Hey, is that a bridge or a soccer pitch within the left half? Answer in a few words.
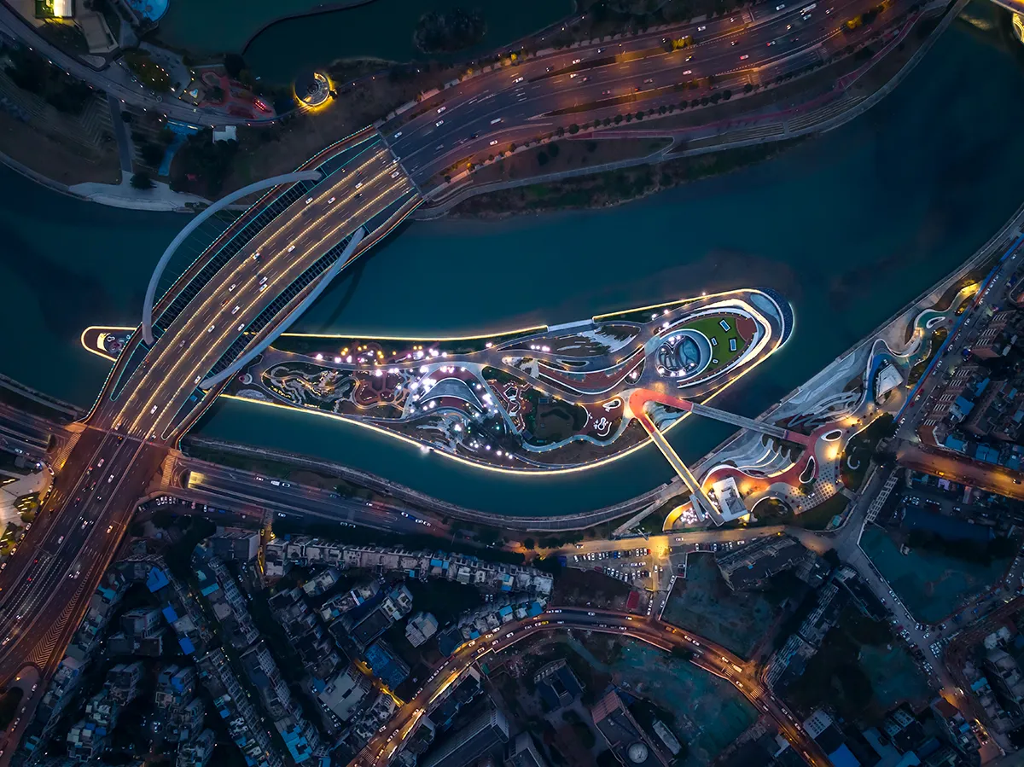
bridge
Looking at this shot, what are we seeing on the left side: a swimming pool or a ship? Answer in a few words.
swimming pool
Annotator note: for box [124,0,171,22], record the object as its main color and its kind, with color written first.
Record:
blue swimming pool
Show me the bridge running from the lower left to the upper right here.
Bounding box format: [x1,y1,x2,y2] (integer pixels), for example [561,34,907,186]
[80,124,425,451]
